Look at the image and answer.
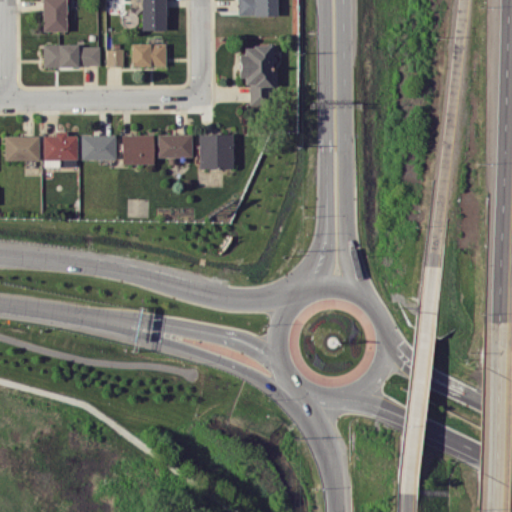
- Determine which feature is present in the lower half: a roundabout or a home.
roundabout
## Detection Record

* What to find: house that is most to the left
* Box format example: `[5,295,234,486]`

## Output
[4,137,41,162]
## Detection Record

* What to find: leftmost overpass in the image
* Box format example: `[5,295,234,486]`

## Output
[397,267,456,496]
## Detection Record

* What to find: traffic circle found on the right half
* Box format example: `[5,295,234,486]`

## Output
[272,282,395,404]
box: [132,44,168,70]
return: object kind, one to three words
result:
house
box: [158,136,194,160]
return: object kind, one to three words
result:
house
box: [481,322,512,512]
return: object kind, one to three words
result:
overpass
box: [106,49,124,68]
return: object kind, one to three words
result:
building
